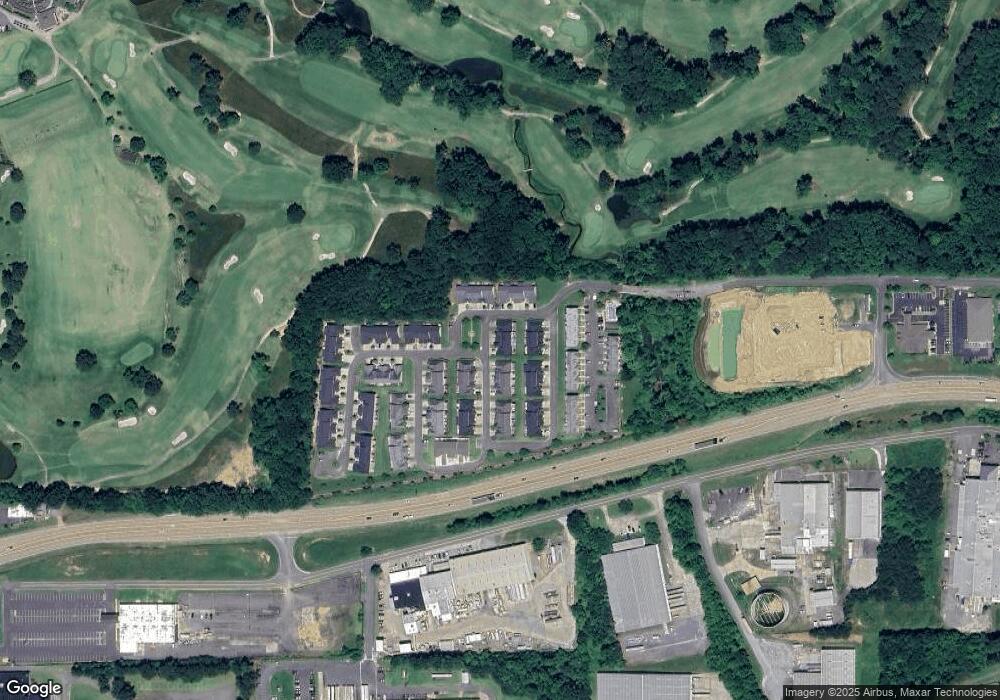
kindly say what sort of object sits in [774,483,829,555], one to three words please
building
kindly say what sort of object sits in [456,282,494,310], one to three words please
house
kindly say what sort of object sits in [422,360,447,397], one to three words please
house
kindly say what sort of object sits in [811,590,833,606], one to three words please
shed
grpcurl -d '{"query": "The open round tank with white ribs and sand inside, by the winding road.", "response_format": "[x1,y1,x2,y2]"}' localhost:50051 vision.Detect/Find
[752,592,789,629]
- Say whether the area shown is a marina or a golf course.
golf course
